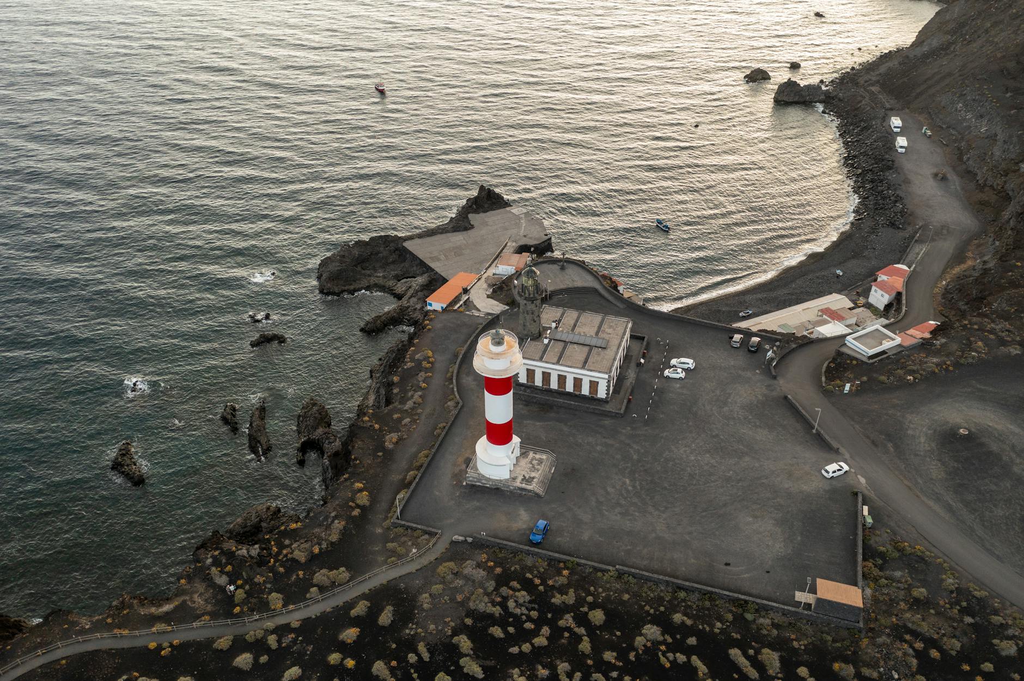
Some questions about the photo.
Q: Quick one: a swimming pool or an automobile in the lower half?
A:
automobile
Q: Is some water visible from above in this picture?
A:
Yes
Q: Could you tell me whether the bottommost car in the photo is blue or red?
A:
blue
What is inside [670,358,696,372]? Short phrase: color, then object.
white car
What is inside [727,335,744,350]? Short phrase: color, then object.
gray car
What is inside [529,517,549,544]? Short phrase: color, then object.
blue car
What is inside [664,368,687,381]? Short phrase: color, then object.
white vehicle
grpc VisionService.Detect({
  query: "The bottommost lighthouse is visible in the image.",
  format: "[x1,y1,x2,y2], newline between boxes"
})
[472,315,521,482]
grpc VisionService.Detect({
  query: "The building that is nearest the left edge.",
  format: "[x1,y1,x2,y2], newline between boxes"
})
[426,272,479,313]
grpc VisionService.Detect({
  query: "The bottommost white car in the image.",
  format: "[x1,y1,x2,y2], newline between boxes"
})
[821,462,851,480]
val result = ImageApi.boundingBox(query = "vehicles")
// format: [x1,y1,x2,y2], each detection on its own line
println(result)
[664,368,687,381]
[748,338,761,354]
[727,335,744,350]
[529,517,549,544]
[821,462,851,480]
[670,358,696,372]
[898,135,909,152]
[892,115,903,131]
